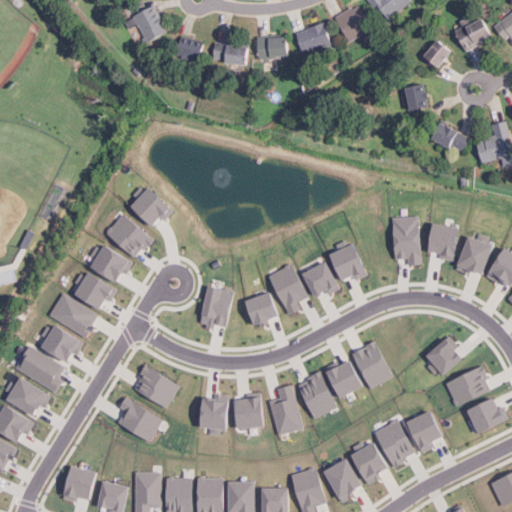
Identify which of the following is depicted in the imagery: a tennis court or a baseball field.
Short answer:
baseball field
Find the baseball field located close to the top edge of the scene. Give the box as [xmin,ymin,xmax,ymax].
[0,24,38,89]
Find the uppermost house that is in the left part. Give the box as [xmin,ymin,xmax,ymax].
[126,8,164,42]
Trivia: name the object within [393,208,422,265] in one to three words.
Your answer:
house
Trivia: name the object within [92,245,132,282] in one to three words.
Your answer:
house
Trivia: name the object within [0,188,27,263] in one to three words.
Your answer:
baseball field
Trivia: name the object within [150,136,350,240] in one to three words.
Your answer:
pond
